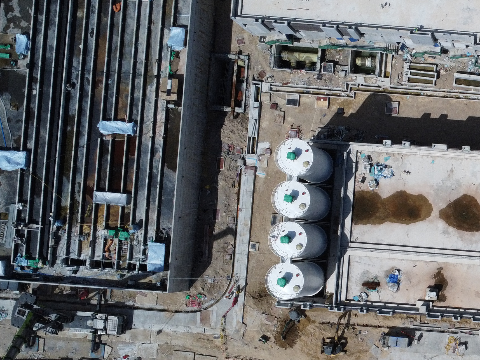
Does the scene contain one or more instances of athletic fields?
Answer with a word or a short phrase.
No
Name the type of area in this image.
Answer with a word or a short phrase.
industrial area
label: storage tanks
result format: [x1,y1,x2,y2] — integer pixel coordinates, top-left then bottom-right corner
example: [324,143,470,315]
[271,138,332,181]
[265,221,326,263]
[261,260,323,304]
[268,181,329,221]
